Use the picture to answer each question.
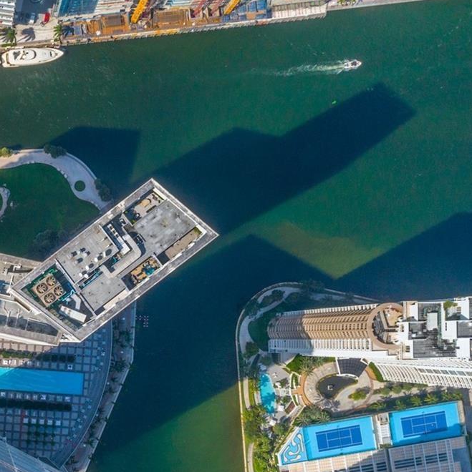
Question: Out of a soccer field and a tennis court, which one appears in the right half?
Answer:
tennis court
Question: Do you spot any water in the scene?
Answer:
Yes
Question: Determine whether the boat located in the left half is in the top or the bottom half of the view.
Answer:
top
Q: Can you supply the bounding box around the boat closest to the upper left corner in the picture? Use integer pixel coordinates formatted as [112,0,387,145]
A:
[0,47,65,69]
